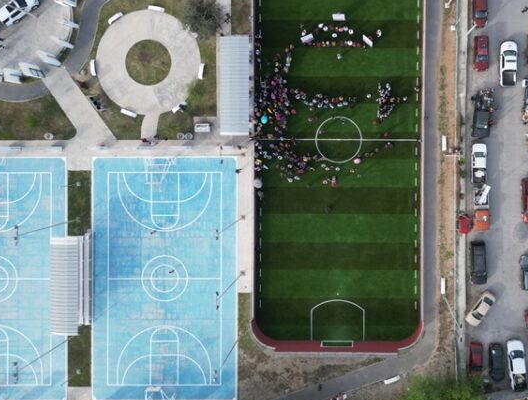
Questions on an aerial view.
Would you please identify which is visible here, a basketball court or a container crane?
basketball court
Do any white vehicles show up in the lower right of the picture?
Yes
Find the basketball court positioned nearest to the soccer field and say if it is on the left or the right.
left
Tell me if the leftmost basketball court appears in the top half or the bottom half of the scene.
bottom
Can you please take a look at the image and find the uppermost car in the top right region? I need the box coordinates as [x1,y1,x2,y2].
[471,0,489,28]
